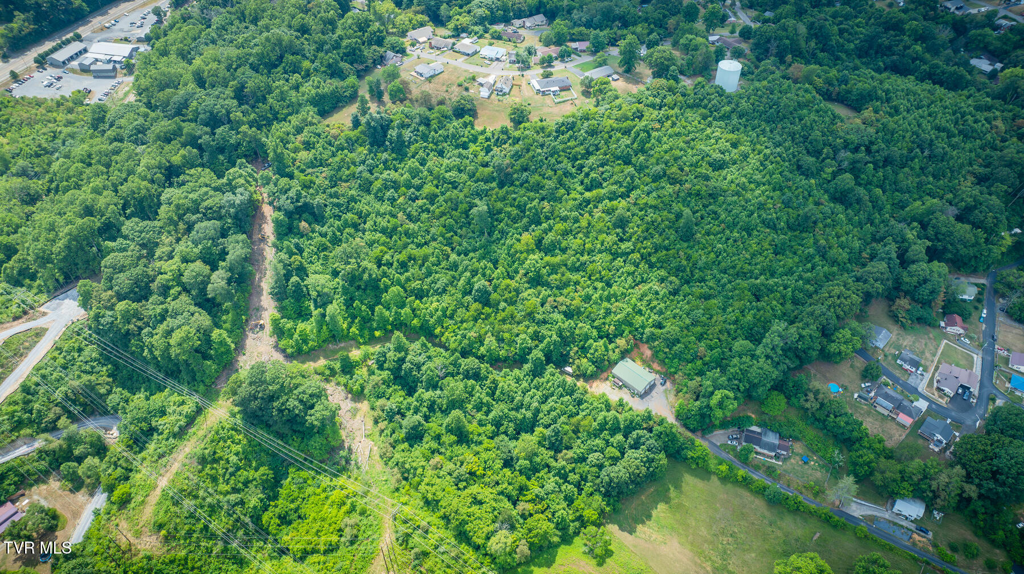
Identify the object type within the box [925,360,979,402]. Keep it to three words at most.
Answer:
house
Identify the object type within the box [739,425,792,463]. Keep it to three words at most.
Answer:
house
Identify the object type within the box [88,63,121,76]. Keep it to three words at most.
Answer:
shed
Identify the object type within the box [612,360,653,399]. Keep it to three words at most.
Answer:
building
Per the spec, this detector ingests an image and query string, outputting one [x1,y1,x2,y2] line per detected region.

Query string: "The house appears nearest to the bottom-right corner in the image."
[893,489,925,523]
